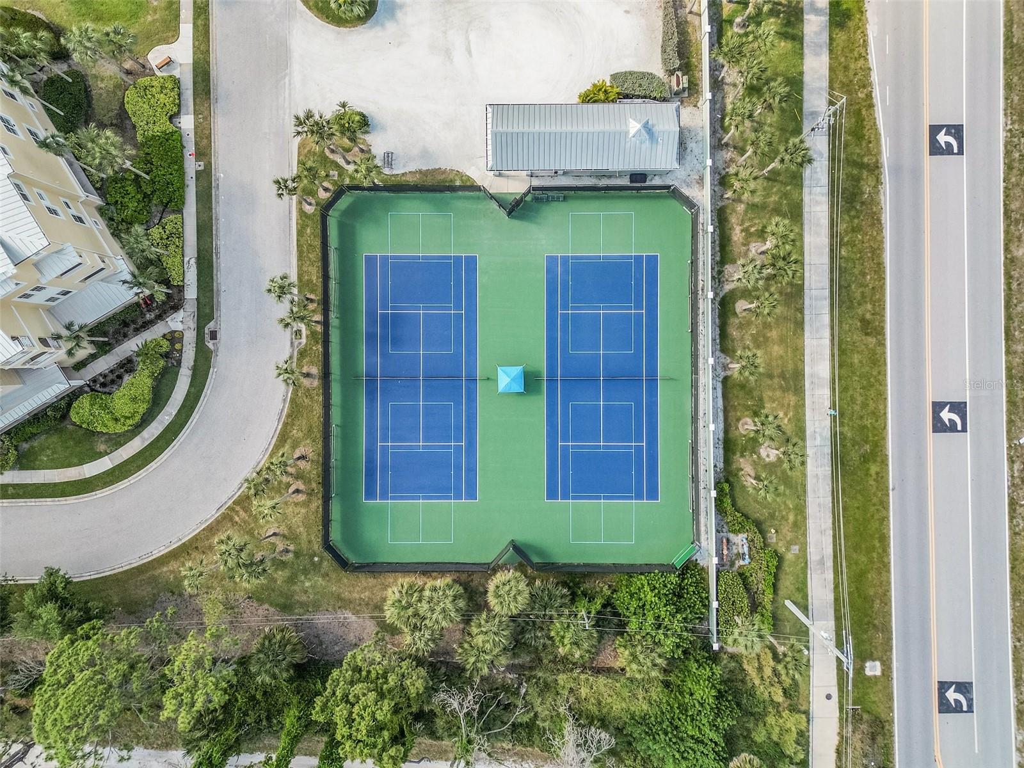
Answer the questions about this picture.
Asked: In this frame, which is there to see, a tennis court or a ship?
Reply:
tennis court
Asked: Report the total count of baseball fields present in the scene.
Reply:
0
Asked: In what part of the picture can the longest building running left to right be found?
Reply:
top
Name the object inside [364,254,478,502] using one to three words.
tennis court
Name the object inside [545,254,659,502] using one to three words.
tennis court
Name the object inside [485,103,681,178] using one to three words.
building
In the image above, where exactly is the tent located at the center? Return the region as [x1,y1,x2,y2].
[494,362,528,396]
